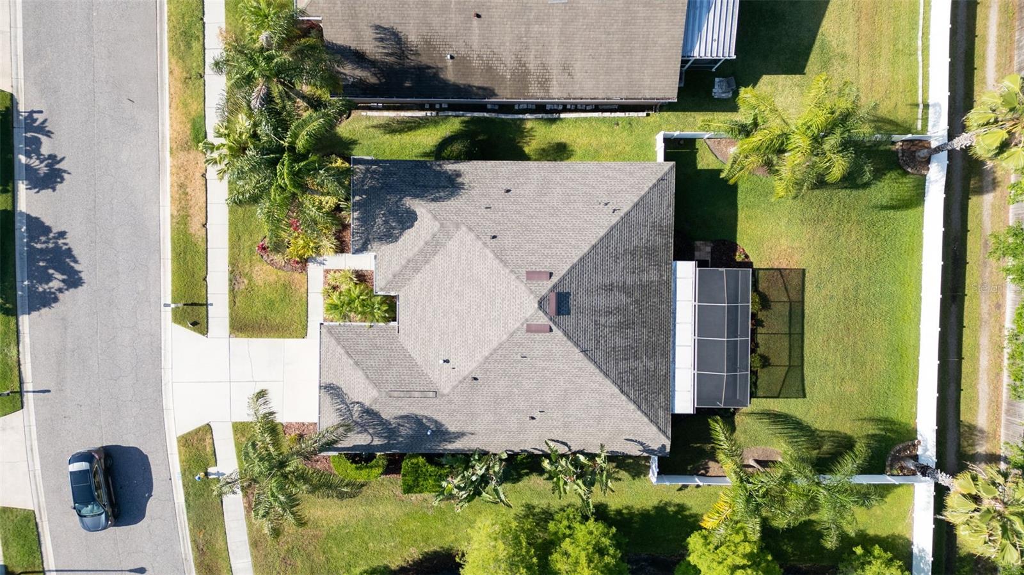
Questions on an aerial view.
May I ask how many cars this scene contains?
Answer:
1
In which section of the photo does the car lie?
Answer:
bottom left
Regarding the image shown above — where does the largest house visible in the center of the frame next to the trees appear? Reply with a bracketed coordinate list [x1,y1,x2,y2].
[317,158,675,456]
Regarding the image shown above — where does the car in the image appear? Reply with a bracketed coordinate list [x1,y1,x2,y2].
[69,443,123,529]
